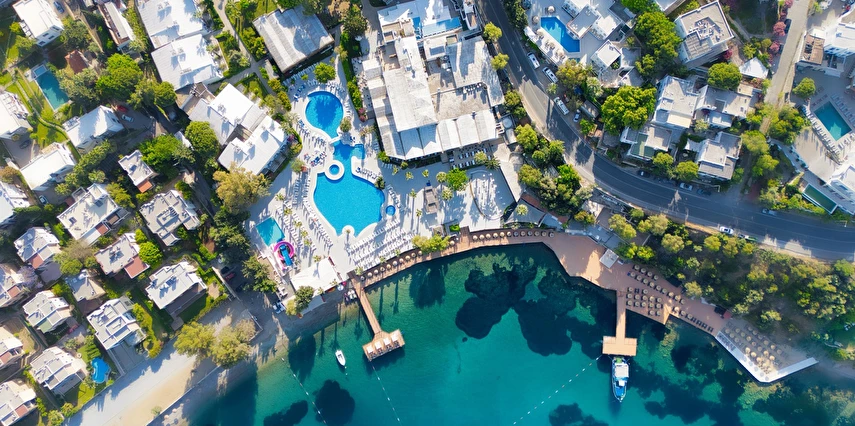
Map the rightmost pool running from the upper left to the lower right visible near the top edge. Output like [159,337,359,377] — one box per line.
[536,12,584,57]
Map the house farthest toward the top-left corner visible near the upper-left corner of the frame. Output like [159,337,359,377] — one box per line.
[12,0,70,43]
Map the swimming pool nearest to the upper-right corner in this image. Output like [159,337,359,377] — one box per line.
[808,94,855,147]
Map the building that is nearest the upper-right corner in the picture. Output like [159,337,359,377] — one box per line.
[795,3,855,70]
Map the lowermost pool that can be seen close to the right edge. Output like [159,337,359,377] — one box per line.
[797,179,841,216]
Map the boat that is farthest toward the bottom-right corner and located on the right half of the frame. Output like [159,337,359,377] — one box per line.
[611,356,628,404]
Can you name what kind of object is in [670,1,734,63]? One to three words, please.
building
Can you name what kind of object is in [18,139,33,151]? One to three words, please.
vehicle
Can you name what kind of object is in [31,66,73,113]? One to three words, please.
swimming pool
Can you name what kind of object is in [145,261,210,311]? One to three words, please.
house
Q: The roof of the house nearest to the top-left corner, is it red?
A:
No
